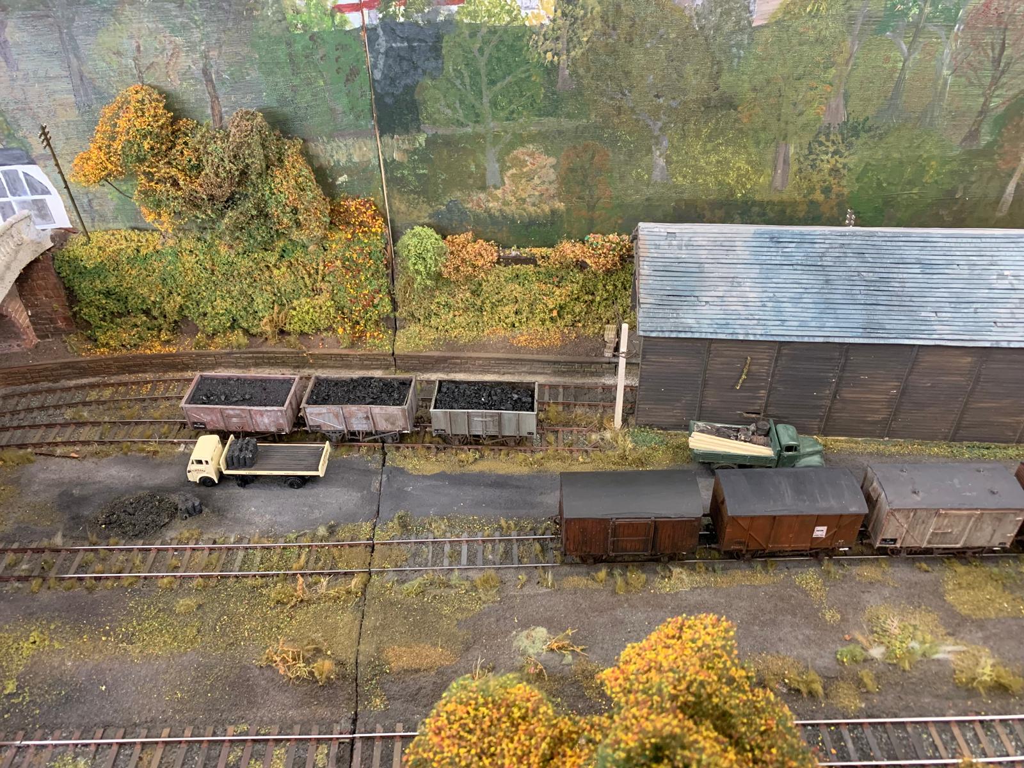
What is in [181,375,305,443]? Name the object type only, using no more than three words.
rail car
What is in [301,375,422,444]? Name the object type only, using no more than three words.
rail car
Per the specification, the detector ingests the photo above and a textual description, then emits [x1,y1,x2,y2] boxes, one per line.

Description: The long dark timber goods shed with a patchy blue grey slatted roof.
[634,224,1024,445]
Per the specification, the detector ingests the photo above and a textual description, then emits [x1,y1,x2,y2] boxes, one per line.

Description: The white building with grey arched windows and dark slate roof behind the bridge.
[0,147,81,235]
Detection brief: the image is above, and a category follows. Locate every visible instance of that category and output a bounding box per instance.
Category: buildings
[0,147,81,235]
[634,224,1024,445]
